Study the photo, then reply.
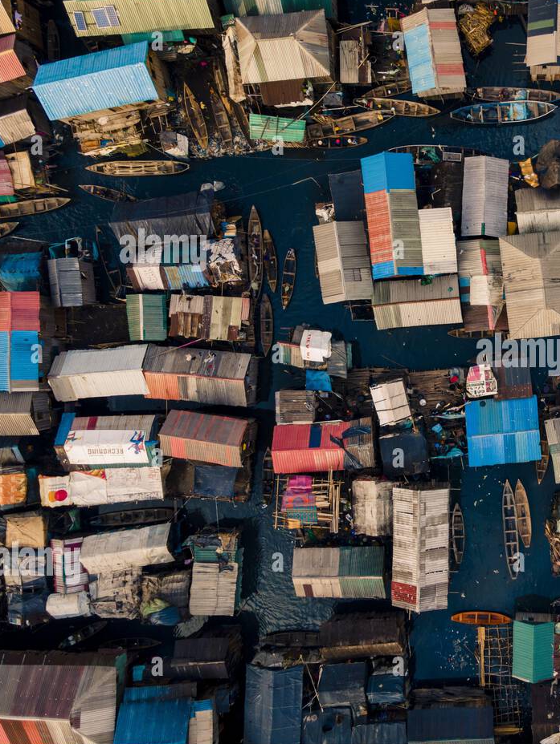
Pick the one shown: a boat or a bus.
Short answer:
boat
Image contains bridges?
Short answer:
No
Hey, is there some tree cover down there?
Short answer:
No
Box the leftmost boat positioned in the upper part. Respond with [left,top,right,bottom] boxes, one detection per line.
[0,222,21,240]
